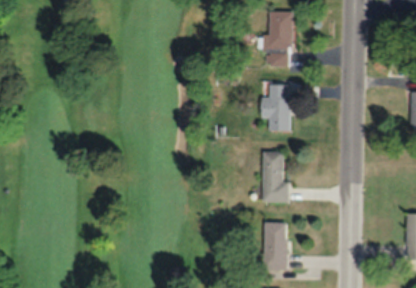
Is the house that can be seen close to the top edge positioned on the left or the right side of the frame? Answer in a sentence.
It is on the right.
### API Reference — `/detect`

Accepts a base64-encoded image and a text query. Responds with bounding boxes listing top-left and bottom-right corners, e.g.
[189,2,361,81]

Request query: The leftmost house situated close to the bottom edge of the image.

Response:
[264,222,293,274]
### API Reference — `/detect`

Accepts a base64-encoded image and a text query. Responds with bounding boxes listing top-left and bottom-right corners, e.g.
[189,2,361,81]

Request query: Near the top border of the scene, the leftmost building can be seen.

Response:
[258,12,294,68]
